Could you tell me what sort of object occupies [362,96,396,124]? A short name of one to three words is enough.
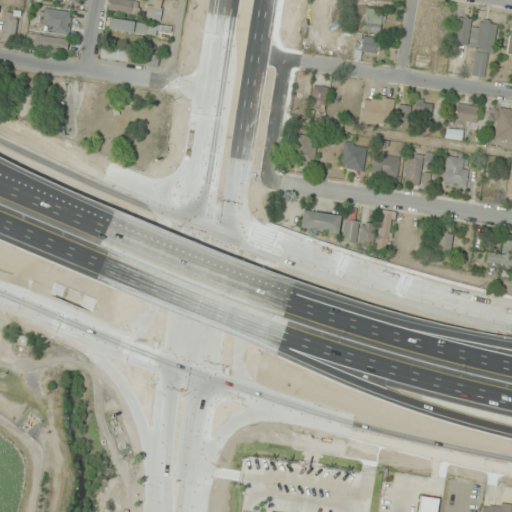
house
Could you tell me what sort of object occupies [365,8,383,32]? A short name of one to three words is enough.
house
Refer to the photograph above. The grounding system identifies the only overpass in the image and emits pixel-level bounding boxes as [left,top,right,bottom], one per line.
[97,208,294,354]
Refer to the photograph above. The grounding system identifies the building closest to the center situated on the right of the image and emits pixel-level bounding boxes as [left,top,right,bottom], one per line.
[303,211,342,232]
